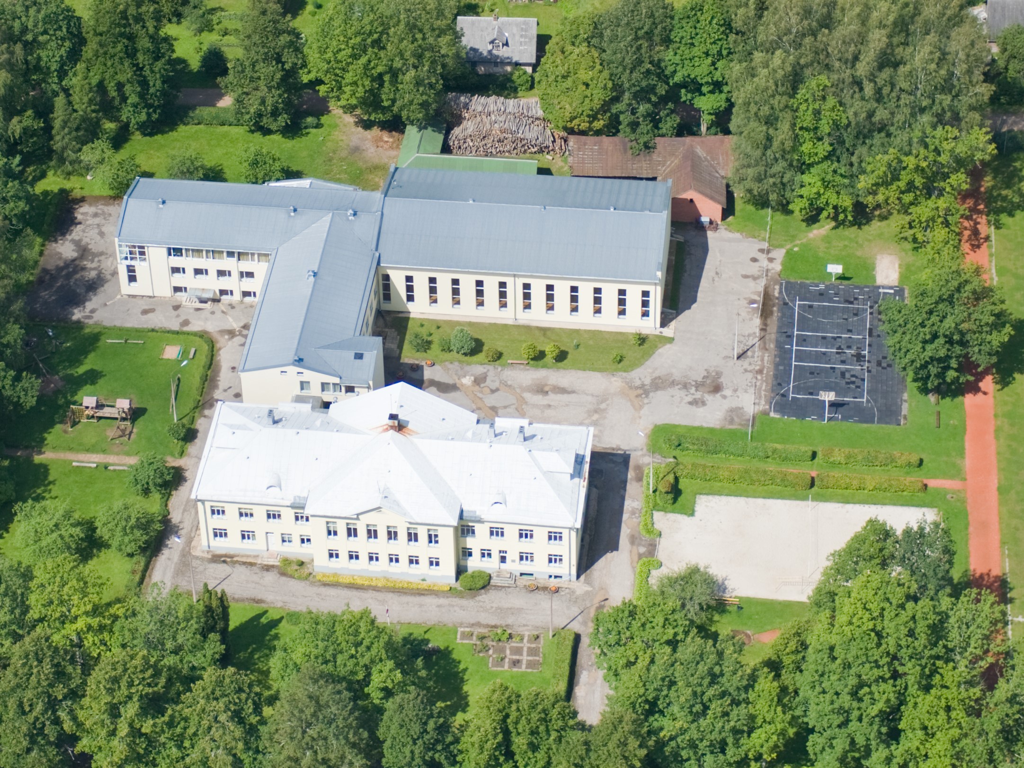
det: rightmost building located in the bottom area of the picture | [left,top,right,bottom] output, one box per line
[191,380,596,588]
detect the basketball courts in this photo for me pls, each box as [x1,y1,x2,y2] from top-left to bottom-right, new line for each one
[771,280,907,424]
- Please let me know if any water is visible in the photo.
No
